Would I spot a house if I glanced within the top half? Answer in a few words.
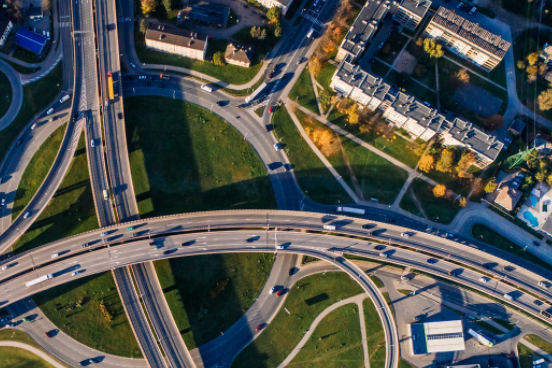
Yes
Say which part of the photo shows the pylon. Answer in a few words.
right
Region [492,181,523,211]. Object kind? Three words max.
house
